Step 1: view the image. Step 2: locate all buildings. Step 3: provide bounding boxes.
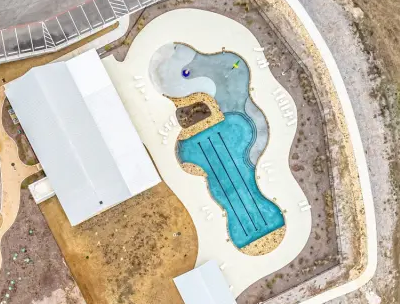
[3,48,162,226]
[173,260,237,304]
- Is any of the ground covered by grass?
Yes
